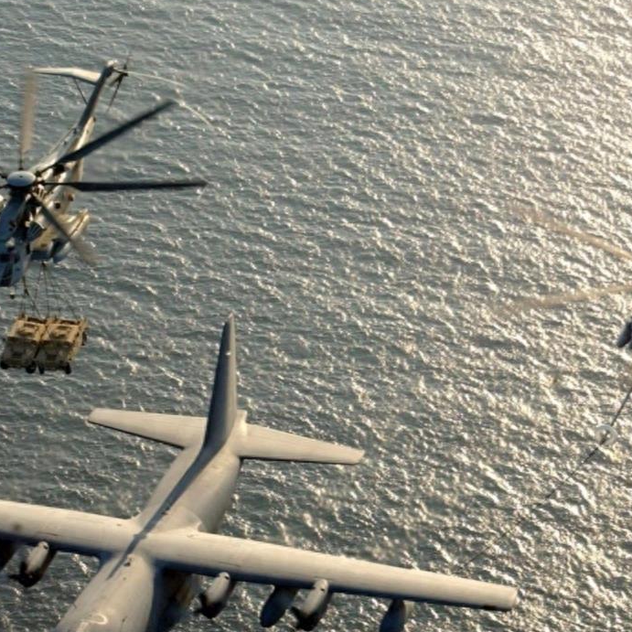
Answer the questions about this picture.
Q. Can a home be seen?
No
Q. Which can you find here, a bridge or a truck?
truck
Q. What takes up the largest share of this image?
water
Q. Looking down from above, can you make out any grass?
No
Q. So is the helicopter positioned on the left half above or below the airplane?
above it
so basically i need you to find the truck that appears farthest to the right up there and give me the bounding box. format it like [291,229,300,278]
[35,314,88,371]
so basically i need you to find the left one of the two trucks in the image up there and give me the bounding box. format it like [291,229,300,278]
[2,309,53,369]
